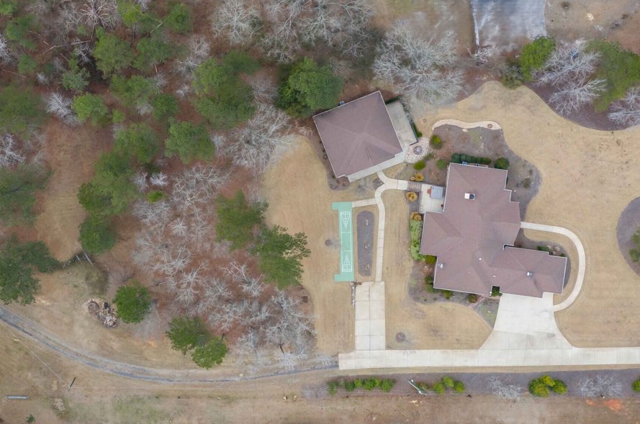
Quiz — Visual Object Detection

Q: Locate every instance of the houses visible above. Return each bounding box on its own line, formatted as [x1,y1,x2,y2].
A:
[313,91,403,177]
[418,163,568,298]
